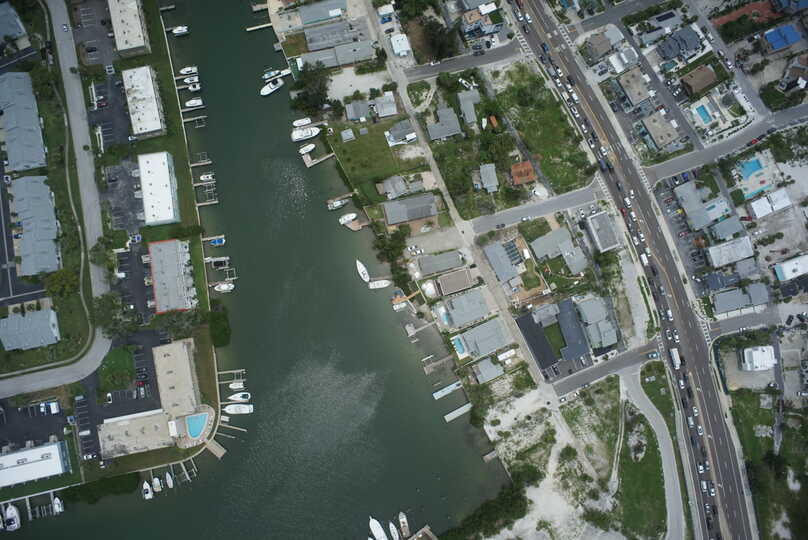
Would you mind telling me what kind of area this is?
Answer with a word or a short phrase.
residential area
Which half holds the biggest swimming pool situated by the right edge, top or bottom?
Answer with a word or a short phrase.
top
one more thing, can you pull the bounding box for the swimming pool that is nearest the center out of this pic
[436,304,453,329]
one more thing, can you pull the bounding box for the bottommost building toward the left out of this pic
[0,432,74,487]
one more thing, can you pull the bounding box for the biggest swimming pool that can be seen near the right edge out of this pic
[735,150,782,200]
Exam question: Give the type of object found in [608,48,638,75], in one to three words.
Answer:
house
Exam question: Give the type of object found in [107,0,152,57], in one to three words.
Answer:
building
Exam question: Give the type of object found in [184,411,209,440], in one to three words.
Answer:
swimming pool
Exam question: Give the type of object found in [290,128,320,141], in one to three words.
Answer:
boat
